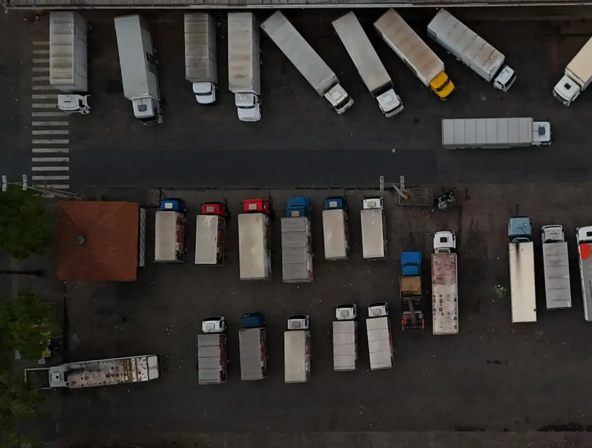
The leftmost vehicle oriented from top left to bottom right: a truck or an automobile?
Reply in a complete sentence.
The leftmost vehicle oriented from top left to bottom right in the image is a truck.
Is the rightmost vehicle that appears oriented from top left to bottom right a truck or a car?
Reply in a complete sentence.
The rightmost vehicle that appears oriented from top left to bottom right is a truck.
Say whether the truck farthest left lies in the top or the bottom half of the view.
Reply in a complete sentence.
The top half of the photo is where the truck farthest left is.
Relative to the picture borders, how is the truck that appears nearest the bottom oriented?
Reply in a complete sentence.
Seen from above, the truck that appears nearest the bottom lies from side to side.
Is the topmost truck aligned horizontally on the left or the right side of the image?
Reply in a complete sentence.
It is on the right.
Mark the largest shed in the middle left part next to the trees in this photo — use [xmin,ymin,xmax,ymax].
[57,200,155,281]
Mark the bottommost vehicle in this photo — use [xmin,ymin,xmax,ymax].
[50,354,168,390]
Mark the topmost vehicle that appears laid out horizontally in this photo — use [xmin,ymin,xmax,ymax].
[442,117,554,151]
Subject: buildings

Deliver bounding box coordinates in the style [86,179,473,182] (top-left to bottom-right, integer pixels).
[3,0,592,14]
[57,200,155,281]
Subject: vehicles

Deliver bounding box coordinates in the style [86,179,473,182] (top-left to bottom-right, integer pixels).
[195,200,226,266]
[155,196,187,262]
[505,214,536,323]
[428,9,517,93]
[374,9,458,103]
[550,37,592,110]
[50,354,168,390]
[361,195,388,260]
[237,195,273,280]
[284,313,312,383]
[442,117,554,151]
[332,302,361,371]
[430,229,460,335]
[184,13,220,108]
[331,11,406,121]
[114,14,166,128]
[198,315,230,384]
[281,196,315,282]
[398,251,424,332]
[227,12,267,126]
[50,11,92,117]
[238,311,270,380]
[573,225,592,322]
[262,10,356,115]
[539,226,572,309]
[321,194,352,260]
[365,301,395,370]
